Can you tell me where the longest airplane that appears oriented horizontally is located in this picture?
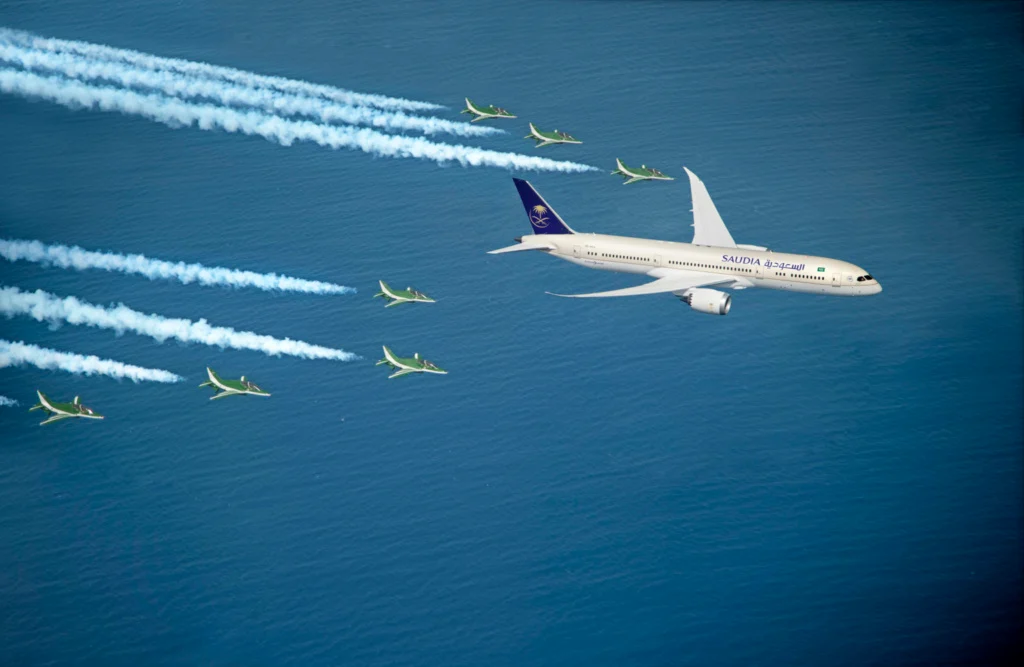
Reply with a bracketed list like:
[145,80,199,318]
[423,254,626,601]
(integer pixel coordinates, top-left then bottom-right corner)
[489,167,882,315]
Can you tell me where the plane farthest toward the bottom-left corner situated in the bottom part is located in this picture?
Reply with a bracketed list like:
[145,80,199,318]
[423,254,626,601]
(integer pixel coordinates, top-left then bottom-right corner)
[29,390,106,425]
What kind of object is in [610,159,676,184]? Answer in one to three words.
airplane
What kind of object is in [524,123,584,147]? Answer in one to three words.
airplane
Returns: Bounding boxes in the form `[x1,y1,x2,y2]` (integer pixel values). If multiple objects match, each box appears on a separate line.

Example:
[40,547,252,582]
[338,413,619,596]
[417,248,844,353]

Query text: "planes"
[489,167,882,315]
[460,98,521,122]
[29,390,106,425]
[198,367,274,400]
[524,123,584,147]
[610,159,676,184]
[373,281,437,307]
[375,346,447,379]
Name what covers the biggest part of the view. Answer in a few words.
water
